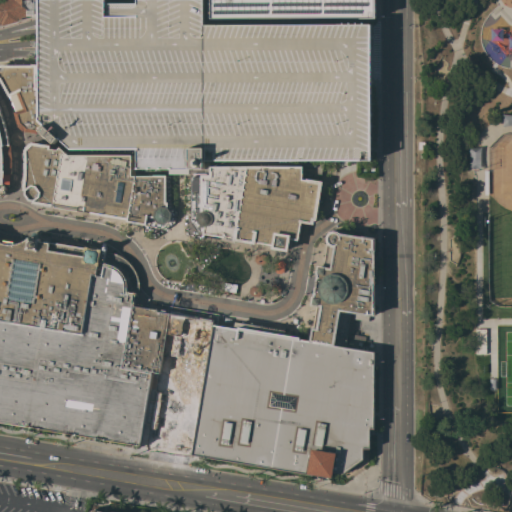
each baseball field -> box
[488,132,512,306]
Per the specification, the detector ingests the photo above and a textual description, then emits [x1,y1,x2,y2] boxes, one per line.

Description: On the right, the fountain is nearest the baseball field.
[352,191,368,207]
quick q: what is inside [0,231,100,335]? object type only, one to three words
building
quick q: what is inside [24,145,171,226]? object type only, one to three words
building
